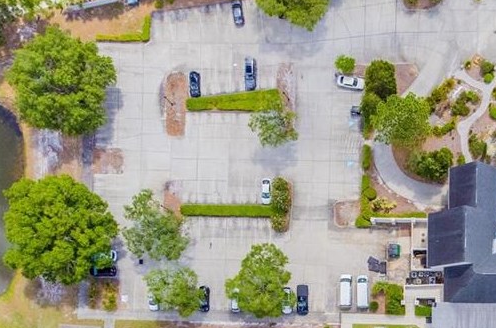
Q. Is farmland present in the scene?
No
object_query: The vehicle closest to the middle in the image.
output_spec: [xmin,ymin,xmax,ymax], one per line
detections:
[259,179,272,204]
